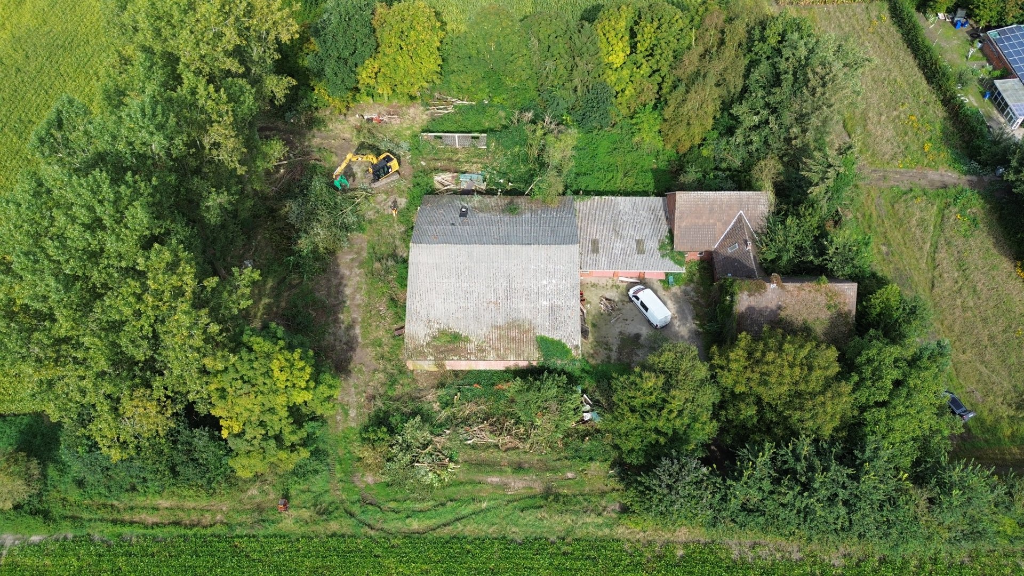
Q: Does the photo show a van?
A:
Yes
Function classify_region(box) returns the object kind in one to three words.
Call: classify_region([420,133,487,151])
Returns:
shed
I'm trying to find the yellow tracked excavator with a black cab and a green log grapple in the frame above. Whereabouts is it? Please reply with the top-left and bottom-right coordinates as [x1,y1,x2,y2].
[337,154,401,200]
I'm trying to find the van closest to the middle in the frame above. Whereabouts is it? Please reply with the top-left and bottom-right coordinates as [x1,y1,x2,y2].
[627,287,673,329]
